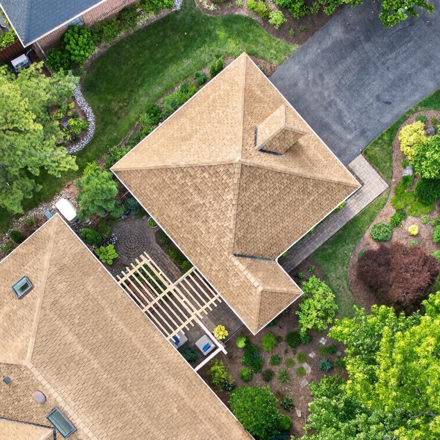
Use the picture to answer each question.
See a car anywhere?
No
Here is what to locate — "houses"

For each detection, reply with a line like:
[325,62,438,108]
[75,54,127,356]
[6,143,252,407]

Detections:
[0,212,256,440]
[0,0,125,53]
[110,50,363,336]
